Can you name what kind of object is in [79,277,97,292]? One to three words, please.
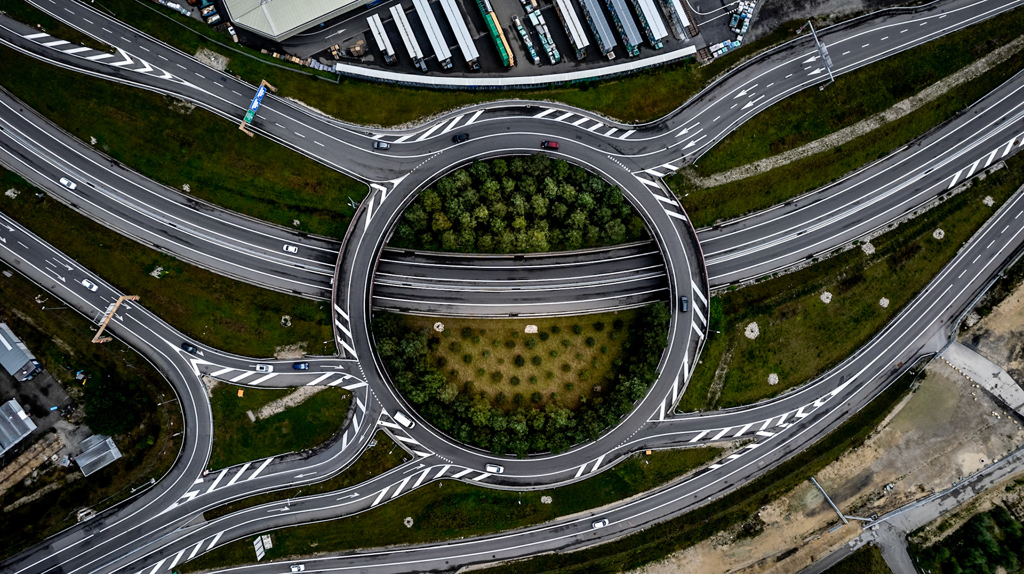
car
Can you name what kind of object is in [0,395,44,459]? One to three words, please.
building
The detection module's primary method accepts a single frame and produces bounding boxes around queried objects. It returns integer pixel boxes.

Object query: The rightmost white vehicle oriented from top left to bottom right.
[393,412,413,429]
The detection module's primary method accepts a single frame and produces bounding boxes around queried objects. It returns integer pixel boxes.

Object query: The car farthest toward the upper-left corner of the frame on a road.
[57,176,75,189]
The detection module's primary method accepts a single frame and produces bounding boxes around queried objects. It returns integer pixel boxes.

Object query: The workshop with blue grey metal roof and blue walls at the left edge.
[0,313,45,381]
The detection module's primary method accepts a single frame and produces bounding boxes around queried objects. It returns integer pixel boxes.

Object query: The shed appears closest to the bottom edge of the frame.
[75,433,128,477]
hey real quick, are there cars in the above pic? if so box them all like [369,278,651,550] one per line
[373,140,389,149]
[79,277,97,292]
[485,465,504,475]
[327,278,332,285]
[179,343,196,354]
[289,565,305,574]
[57,176,75,189]
[592,519,610,531]
[451,131,470,142]
[281,244,299,253]
[681,296,689,312]
[255,364,273,373]
[541,139,559,148]
[292,363,308,371]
